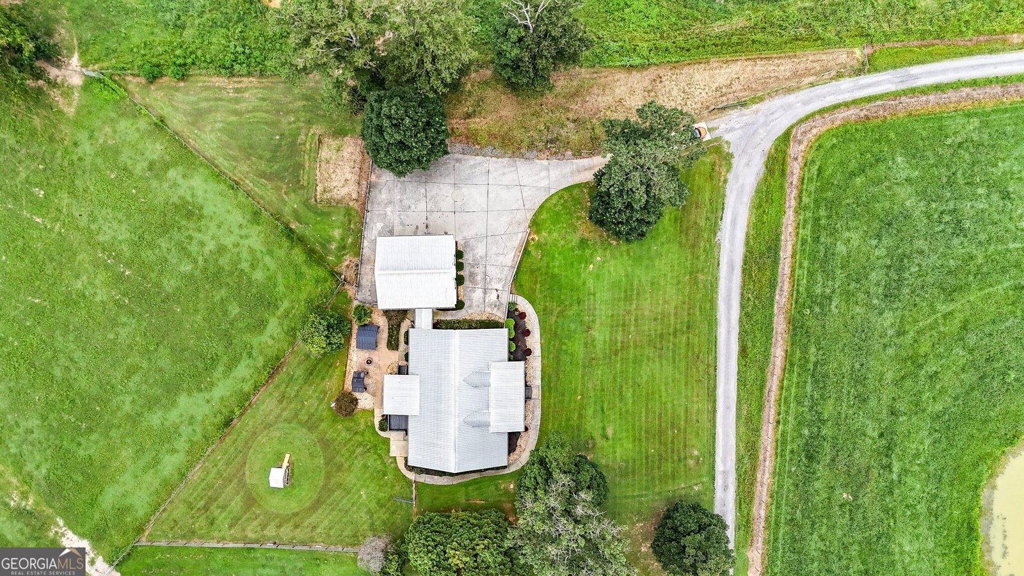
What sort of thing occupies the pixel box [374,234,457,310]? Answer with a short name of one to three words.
building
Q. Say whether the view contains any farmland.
Yes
